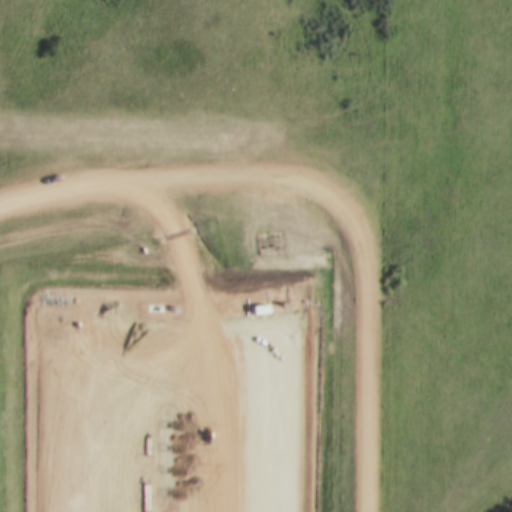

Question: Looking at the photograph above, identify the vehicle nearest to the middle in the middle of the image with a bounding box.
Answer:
[245,302,274,318]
